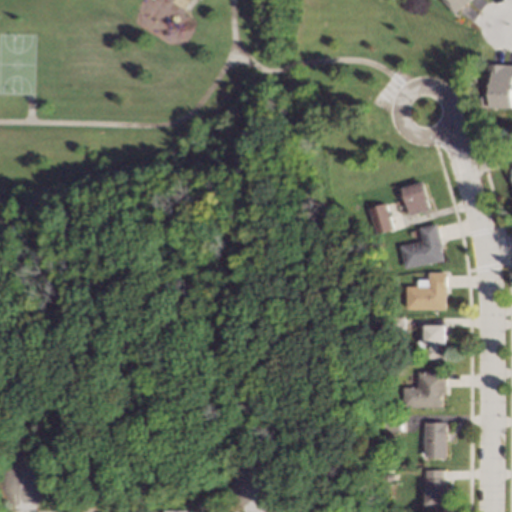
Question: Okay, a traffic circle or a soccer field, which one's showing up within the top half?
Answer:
traffic circle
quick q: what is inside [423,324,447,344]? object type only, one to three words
house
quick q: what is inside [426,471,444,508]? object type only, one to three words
house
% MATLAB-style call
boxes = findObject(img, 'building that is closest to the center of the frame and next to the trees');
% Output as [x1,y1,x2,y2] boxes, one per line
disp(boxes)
[370,204,394,234]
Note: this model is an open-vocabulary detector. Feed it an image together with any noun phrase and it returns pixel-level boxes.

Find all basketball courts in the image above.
[0,32,38,96]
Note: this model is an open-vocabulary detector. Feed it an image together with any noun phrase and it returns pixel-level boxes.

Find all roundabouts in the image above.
[390,77,458,146]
